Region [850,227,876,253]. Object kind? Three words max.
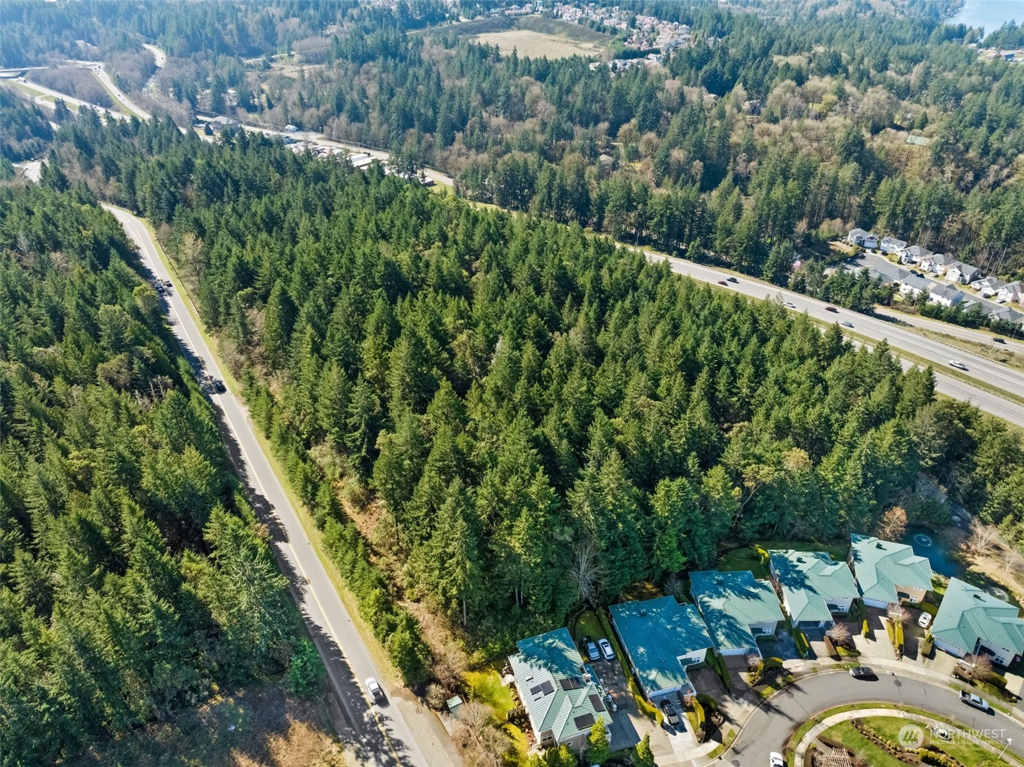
house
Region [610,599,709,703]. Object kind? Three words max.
building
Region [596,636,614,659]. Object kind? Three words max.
car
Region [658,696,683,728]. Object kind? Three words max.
truck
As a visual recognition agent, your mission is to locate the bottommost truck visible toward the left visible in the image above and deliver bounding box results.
[366,677,387,706]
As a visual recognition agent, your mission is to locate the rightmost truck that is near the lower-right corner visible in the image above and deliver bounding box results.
[956,688,992,712]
